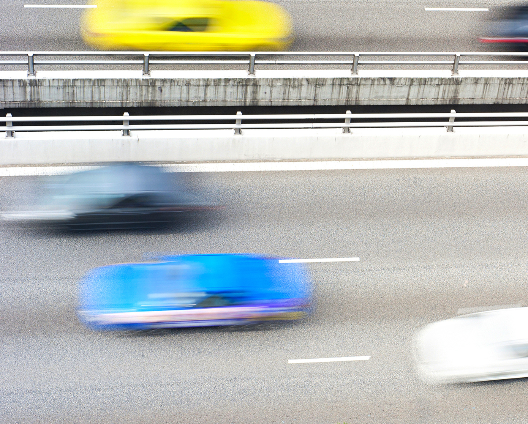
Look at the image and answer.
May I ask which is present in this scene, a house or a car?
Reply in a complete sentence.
The one in the frame is a car.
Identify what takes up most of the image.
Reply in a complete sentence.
Most of the picture is covered by paved ground.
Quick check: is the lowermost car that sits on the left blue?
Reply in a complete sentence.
Yes, blue is the color of the lowermost car that sits on the left.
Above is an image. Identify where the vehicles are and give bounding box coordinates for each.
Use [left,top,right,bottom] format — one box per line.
[92,0,281,60]
[482,0,528,60]
[83,250,308,336]
[14,157,203,237]
[414,303,528,391]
